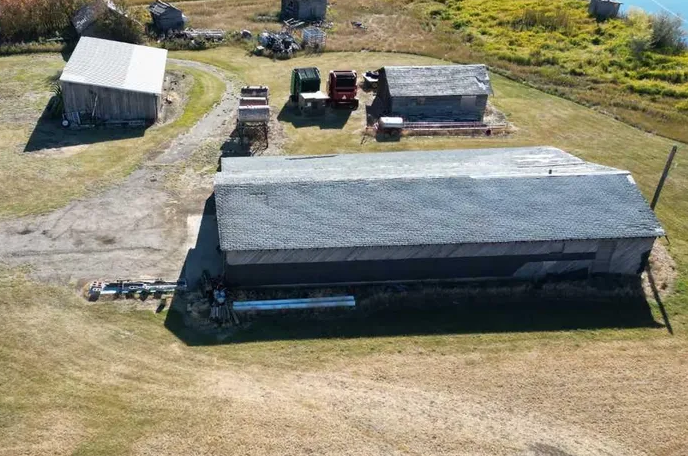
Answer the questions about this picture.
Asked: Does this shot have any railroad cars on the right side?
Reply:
No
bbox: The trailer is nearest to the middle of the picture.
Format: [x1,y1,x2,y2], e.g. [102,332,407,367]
[356,112,408,138]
